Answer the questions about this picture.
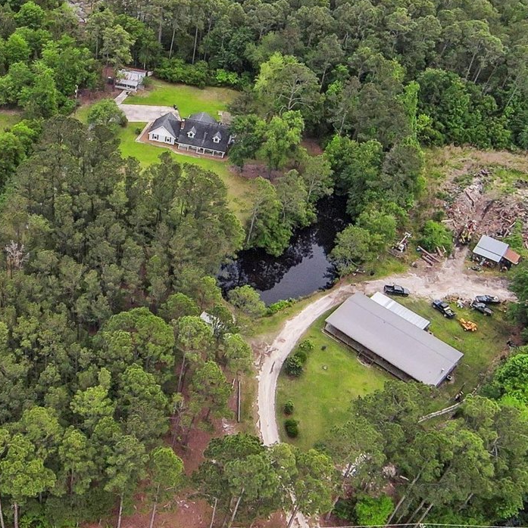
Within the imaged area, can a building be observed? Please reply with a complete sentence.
Yes, the picture does show a building.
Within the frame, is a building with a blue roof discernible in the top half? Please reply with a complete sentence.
No, there is no building with a blue roof in the top half.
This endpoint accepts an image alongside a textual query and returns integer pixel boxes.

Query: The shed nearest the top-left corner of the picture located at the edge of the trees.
[114,65,148,94]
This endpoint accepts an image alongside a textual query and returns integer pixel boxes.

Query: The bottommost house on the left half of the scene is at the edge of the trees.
[147,110,230,159]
